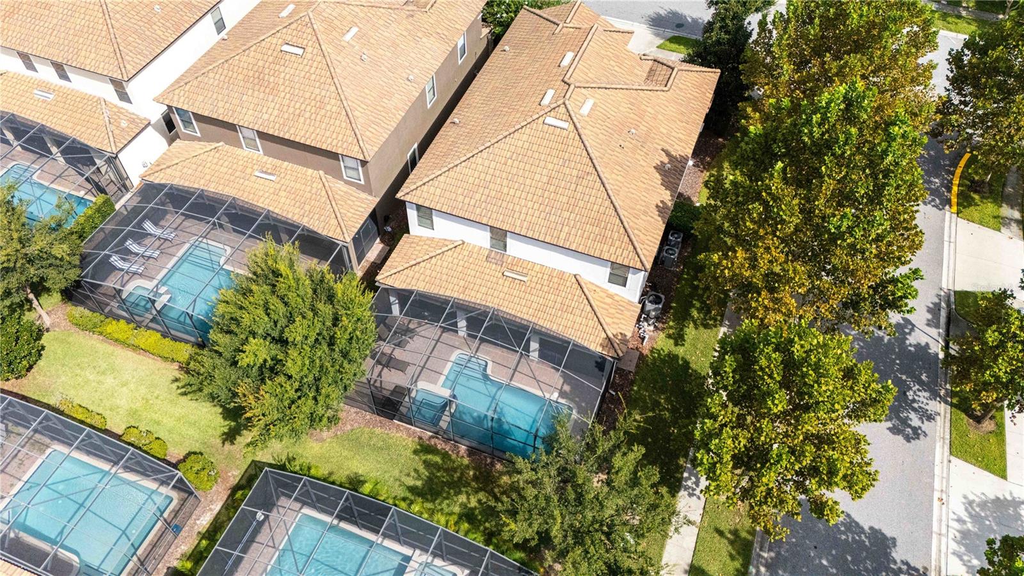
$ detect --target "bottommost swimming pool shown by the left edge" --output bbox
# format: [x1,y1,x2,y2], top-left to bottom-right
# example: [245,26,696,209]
[0,441,179,576]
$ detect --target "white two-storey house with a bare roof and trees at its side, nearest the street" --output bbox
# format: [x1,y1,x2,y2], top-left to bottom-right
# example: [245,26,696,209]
[376,0,720,392]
